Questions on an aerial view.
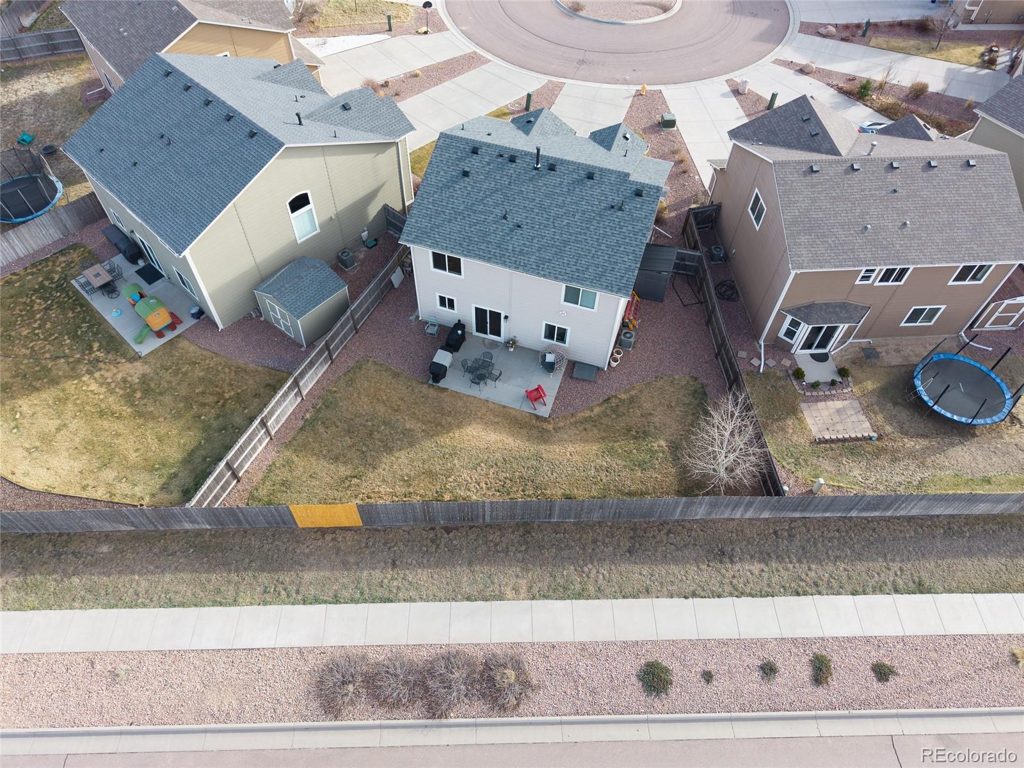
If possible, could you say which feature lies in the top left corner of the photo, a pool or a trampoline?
trampoline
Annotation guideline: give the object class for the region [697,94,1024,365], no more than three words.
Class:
house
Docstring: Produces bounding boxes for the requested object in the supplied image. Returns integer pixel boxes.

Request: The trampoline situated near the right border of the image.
[904,333,1024,436]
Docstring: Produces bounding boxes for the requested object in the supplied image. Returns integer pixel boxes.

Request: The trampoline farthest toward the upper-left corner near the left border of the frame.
[0,149,67,229]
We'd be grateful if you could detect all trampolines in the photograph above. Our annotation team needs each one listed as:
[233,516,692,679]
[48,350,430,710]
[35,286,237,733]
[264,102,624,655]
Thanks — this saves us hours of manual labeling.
[0,149,67,229]
[904,333,1024,436]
